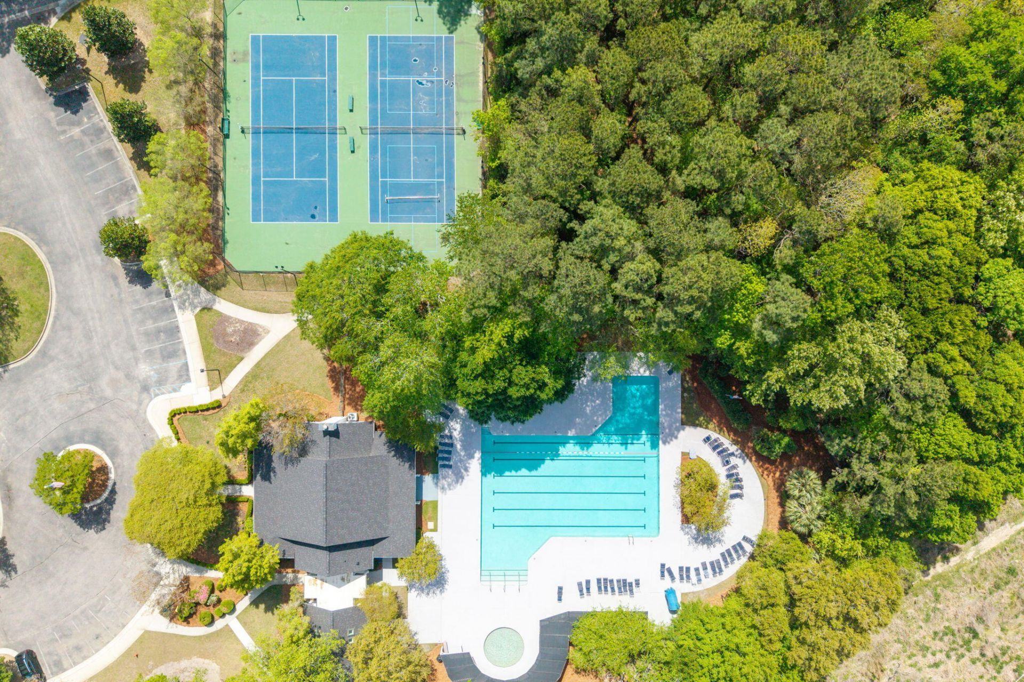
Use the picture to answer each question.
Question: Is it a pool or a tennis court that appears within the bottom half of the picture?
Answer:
pool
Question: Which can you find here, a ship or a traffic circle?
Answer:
traffic circle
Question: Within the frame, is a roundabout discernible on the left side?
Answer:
Yes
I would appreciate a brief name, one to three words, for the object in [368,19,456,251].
tennis court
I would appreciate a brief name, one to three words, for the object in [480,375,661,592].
swimming pool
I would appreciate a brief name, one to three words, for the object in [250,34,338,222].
tennis court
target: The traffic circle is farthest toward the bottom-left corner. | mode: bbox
[55,444,115,506]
